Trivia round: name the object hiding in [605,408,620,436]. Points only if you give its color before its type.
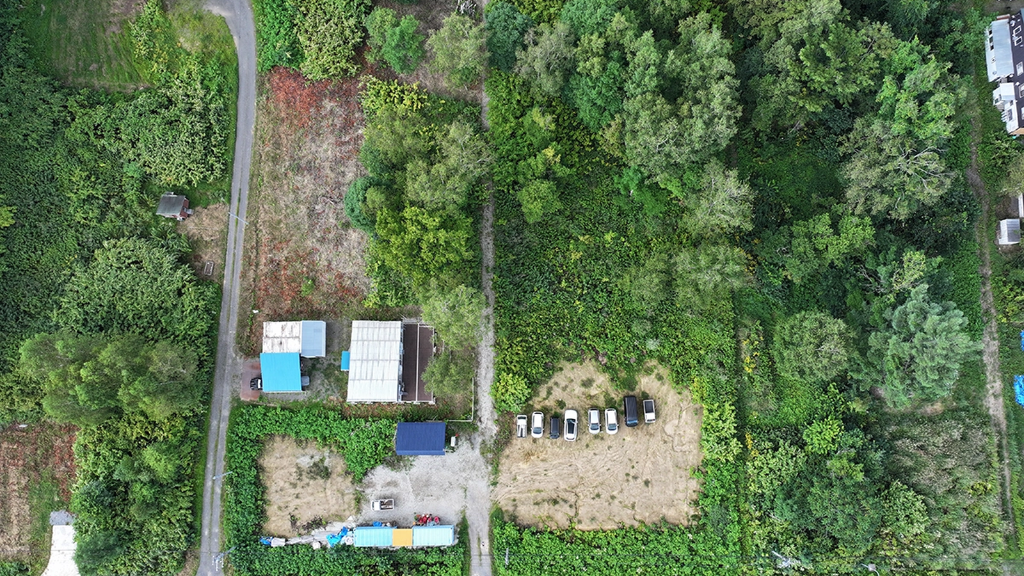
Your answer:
white car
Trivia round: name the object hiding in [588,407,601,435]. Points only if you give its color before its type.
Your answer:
white vehicle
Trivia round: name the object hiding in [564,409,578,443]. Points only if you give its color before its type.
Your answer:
white car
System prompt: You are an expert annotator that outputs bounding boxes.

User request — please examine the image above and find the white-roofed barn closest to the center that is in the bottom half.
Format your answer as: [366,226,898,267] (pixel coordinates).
[341,321,405,403]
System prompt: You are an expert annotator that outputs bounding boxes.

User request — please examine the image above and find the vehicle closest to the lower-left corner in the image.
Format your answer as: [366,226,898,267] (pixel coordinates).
[248,376,263,390]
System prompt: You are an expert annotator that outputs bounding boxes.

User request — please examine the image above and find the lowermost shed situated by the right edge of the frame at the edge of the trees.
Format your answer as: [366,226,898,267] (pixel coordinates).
[991,219,1020,246]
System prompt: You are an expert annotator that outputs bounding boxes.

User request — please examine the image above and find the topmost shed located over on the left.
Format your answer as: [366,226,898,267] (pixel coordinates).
[156,190,198,218]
